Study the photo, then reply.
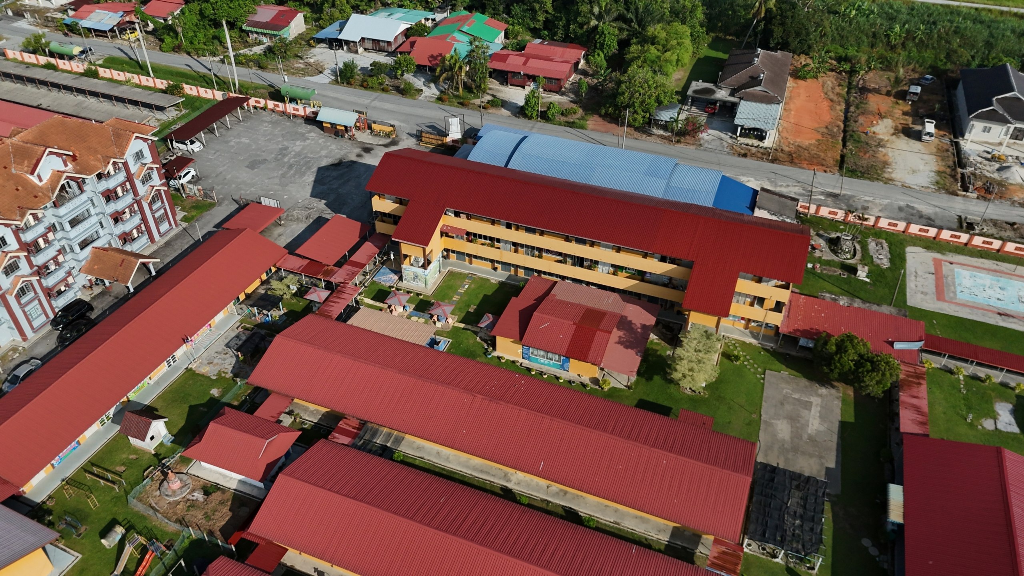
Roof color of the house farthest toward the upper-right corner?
black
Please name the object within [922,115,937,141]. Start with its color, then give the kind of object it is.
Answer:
white vehicle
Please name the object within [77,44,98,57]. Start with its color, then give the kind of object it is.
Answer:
gray vehicle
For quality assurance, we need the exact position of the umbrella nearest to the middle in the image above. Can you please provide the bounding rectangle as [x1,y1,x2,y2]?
[472,312,503,336]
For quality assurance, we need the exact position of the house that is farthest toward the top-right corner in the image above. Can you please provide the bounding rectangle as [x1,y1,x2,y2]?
[955,59,1024,158]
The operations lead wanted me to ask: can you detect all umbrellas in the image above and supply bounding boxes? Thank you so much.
[426,300,457,322]
[383,288,413,308]
[472,312,503,336]
[302,287,332,308]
